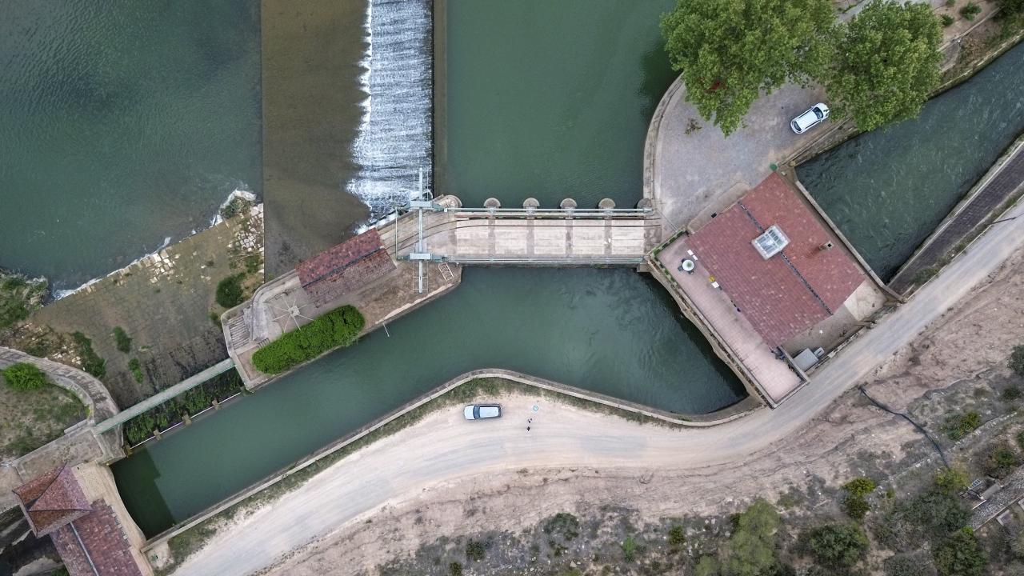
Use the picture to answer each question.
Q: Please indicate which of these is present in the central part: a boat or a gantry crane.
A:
gantry crane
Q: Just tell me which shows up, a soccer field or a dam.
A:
dam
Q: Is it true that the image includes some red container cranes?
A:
No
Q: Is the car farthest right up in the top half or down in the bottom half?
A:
top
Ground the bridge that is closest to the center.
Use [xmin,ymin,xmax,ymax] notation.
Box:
[441,195,662,267]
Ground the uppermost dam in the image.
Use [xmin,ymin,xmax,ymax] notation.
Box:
[261,0,446,280]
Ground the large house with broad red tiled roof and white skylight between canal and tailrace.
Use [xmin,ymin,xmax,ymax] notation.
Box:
[686,172,866,347]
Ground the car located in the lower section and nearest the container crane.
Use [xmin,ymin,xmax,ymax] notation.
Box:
[465,404,501,421]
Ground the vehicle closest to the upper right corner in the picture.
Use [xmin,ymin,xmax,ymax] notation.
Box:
[792,104,831,133]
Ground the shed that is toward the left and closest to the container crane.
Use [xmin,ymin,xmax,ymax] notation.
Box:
[296,228,397,309]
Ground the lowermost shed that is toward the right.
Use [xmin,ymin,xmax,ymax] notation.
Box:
[787,347,819,372]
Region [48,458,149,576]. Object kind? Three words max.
building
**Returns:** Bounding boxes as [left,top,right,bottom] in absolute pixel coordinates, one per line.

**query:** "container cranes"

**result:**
[394,164,450,297]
